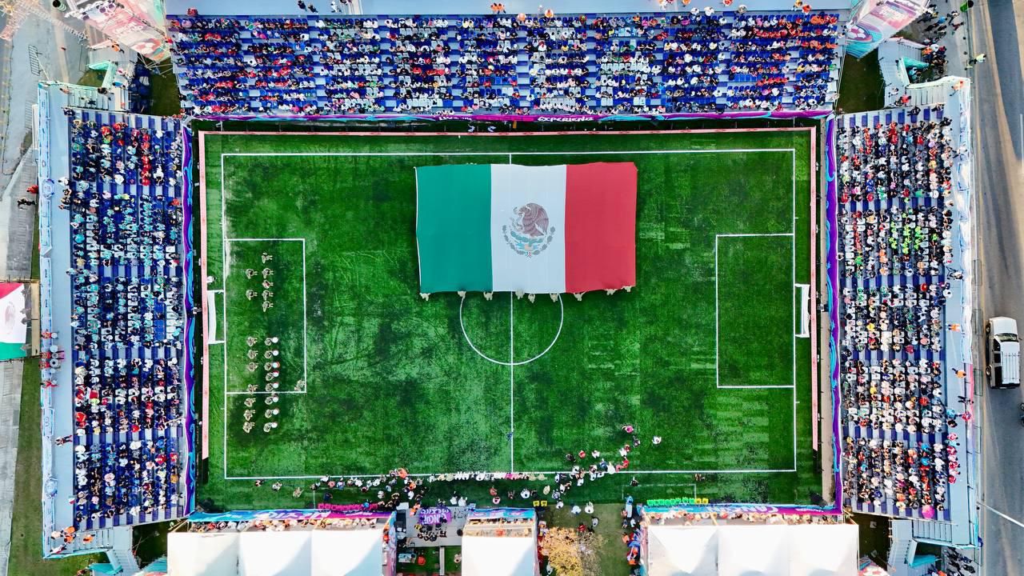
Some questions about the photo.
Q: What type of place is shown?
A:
sports ground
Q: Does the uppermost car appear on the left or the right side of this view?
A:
right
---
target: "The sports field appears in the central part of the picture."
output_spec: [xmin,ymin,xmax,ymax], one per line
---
[193,121,822,512]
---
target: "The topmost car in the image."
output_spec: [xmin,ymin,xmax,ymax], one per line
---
[986,317,1024,390]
